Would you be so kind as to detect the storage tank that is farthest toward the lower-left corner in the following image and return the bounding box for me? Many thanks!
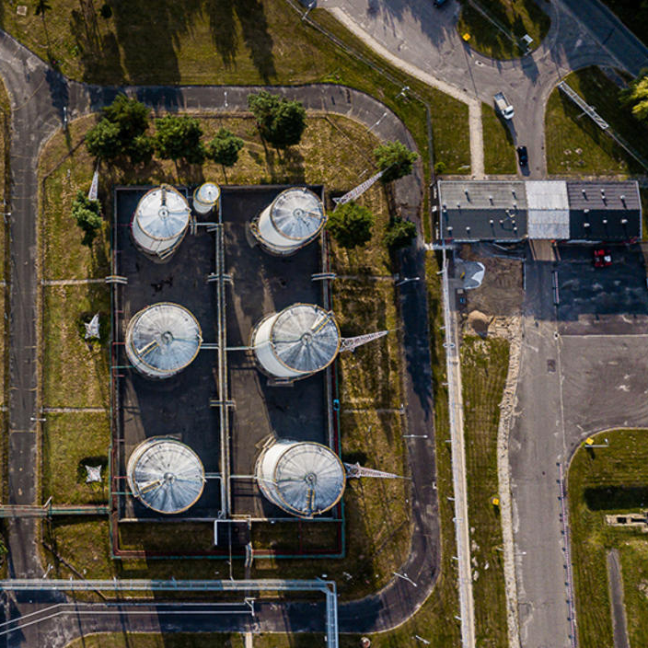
[125,439,206,513]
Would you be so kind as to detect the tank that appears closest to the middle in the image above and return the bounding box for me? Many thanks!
[253,303,343,379]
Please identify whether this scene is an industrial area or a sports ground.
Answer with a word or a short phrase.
industrial area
